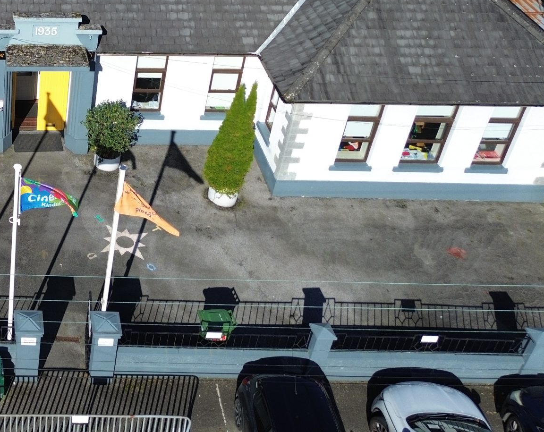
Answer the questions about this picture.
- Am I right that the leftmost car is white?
No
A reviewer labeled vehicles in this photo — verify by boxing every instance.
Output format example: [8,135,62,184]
[367,384,502,432]
[498,386,544,432]
[236,362,354,432]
